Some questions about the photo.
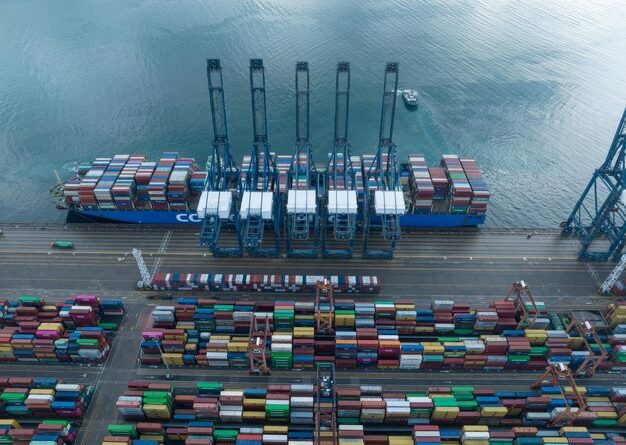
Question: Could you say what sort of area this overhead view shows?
port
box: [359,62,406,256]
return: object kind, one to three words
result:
container crane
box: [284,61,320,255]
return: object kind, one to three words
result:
container crane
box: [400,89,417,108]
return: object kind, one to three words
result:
boat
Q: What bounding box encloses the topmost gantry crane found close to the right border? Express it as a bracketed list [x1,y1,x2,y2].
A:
[565,119,626,259]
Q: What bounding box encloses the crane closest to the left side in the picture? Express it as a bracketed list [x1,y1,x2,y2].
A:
[195,59,246,254]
